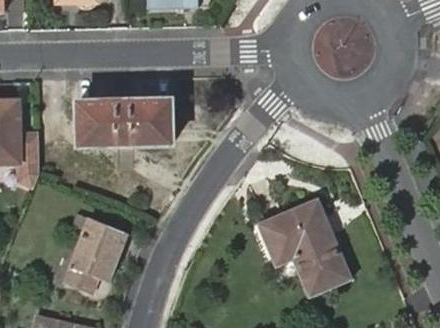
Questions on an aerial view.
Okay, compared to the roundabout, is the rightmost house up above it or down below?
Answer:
below it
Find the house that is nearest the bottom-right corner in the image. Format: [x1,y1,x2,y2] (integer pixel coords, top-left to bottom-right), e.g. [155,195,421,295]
[256,198,355,298]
